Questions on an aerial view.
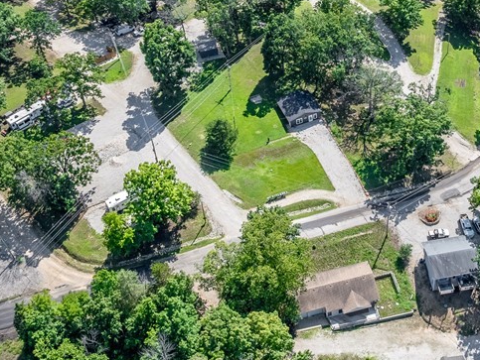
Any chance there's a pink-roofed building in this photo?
No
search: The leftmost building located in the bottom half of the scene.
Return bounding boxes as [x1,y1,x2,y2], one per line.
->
[297,263,383,331]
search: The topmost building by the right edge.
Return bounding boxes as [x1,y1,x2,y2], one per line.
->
[423,235,478,298]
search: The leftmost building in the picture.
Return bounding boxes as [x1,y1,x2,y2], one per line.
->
[198,39,219,59]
